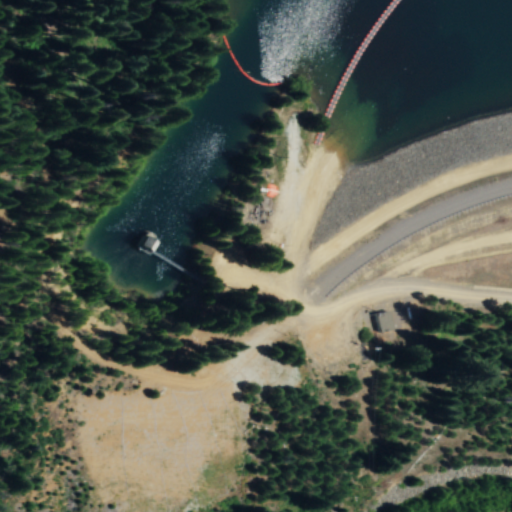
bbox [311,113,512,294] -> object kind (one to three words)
dam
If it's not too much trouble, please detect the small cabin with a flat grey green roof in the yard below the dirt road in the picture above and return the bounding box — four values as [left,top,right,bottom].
[378,312,396,332]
